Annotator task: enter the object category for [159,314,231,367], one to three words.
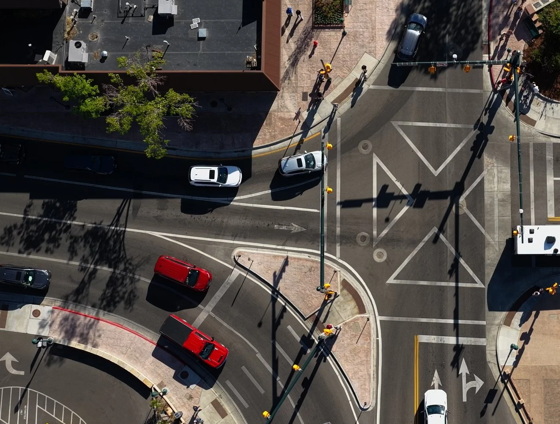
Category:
truck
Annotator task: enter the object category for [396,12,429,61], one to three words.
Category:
car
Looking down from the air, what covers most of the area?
paved ground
